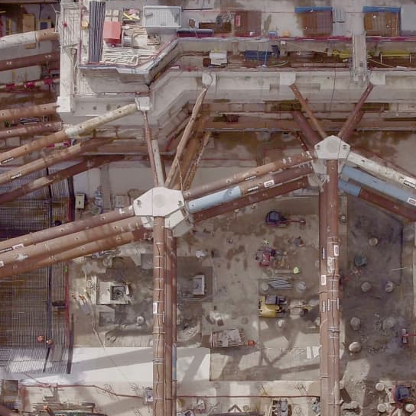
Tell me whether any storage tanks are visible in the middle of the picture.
No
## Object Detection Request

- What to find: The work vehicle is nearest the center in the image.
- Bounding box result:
[268,209,307,226]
